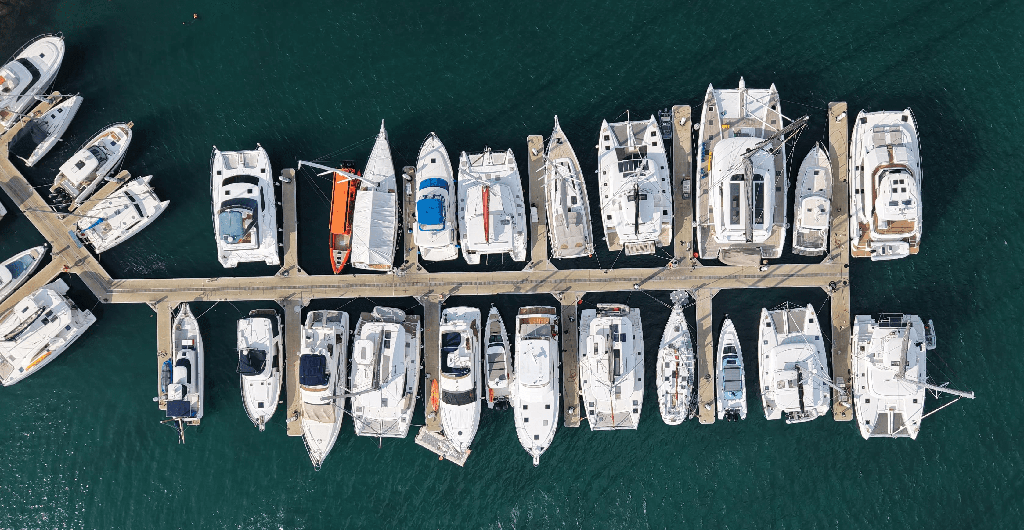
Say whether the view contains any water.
Yes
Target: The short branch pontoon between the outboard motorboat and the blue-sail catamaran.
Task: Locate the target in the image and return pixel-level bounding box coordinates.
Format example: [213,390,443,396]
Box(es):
[63,170,132,230]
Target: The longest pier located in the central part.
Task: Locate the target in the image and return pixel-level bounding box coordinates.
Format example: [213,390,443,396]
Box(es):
[102,263,848,303]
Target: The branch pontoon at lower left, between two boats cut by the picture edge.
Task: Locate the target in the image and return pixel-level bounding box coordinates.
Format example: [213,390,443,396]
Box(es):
[0,247,76,317]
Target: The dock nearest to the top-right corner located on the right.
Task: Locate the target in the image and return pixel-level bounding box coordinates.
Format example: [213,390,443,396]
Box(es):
[820,102,850,286]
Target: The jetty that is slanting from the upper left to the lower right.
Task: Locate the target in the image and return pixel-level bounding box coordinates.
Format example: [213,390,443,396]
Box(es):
[0,148,115,303]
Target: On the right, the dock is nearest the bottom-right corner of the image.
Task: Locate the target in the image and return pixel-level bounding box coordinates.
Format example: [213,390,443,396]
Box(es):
[820,287,852,421]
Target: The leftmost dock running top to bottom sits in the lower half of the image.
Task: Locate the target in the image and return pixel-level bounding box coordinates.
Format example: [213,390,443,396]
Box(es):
[146,301,182,410]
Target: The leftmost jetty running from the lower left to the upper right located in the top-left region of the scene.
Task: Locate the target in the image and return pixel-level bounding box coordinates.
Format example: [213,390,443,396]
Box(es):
[0,91,64,158]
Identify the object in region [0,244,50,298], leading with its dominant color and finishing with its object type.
white boat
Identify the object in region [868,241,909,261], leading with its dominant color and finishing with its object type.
white boat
